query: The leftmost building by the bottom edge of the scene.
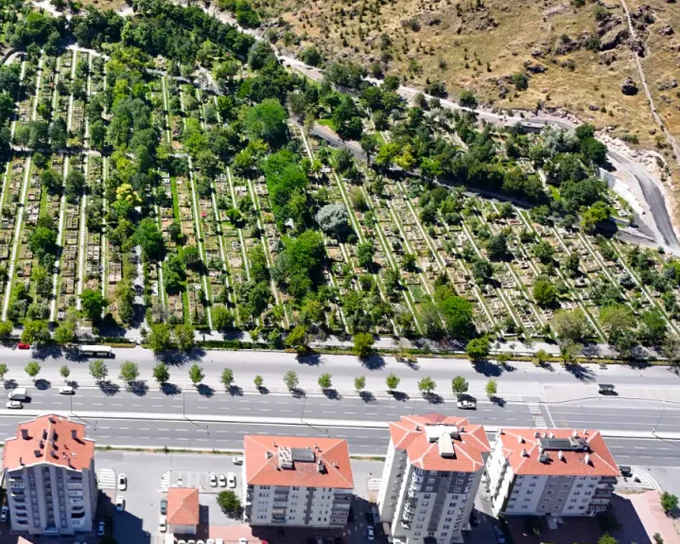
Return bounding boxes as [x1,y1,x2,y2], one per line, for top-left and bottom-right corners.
[0,413,93,540]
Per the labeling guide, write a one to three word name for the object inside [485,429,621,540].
building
